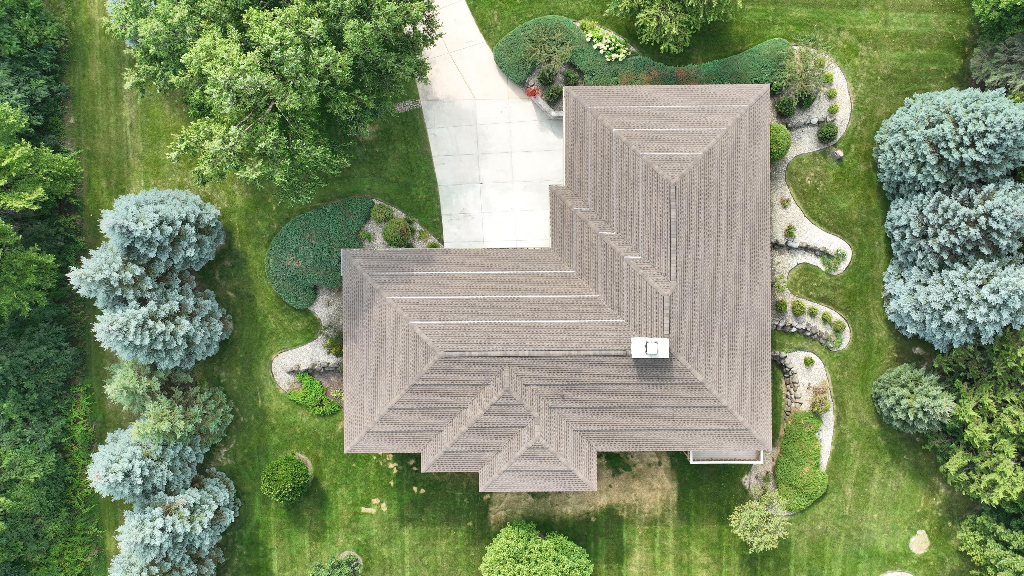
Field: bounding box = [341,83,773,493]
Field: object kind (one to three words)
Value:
house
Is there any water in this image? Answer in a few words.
No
